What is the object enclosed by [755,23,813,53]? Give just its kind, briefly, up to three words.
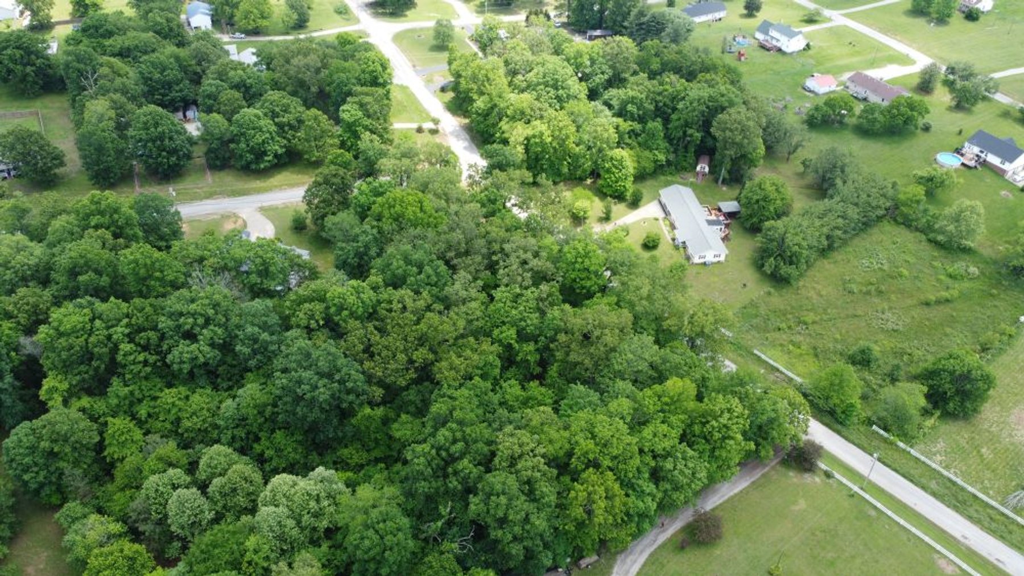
house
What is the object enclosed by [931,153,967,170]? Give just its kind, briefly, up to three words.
swimming pool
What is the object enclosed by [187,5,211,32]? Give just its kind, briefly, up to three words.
house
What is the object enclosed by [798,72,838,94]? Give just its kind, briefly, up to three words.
shed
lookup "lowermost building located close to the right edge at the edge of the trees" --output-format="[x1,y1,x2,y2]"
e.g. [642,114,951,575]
[957,132,1024,181]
